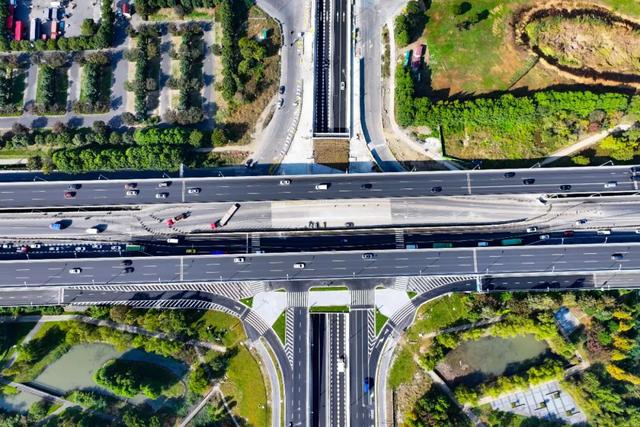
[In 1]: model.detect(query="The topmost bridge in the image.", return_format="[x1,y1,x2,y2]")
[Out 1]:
[0,164,640,209]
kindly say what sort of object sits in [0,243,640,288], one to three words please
bridge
